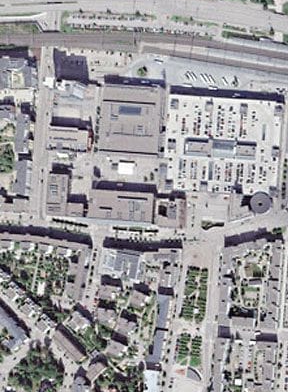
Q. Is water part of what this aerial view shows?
No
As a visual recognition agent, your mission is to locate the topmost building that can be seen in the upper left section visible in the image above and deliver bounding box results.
[0,60,39,89]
